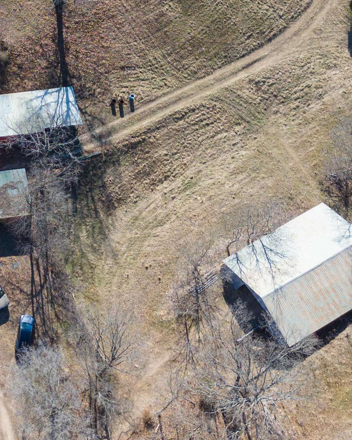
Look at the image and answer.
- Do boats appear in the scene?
No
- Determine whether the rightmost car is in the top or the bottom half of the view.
bottom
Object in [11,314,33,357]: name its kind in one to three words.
car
